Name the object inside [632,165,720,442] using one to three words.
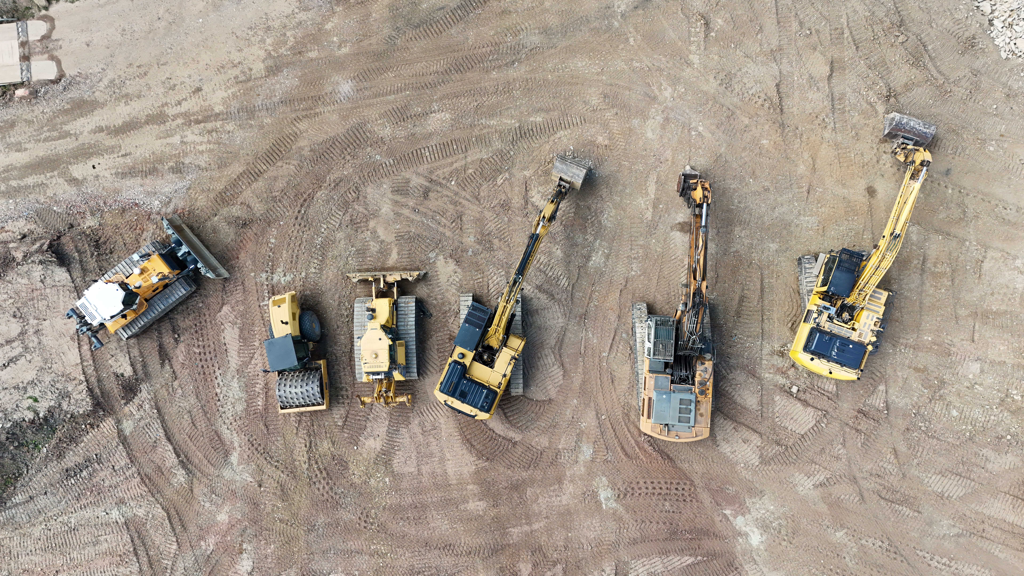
work vehicle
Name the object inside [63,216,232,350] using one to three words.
work vehicle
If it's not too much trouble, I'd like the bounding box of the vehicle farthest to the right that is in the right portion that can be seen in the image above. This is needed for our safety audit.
[789,113,936,380]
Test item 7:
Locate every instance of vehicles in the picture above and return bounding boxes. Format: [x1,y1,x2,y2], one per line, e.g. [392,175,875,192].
[260,291,332,413]
[63,216,232,350]
[434,154,591,419]
[346,271,429,408]
[789,113,936,380]
[632,165,720,442]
